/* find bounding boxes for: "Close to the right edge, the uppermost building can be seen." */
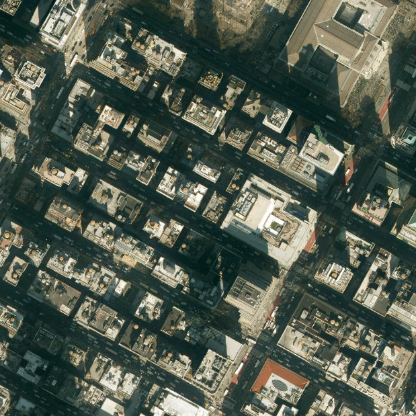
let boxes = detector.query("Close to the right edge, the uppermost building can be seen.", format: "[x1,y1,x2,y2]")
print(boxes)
[278,0,398,93]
